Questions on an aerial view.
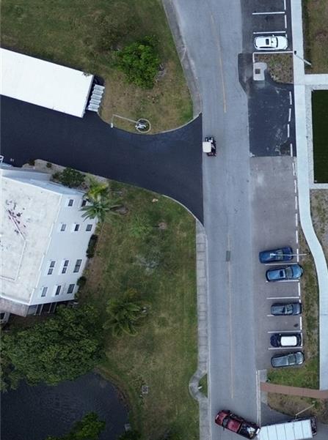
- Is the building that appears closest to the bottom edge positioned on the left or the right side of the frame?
left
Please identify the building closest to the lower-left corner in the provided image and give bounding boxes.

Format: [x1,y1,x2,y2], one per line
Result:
[0,166,104,314]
